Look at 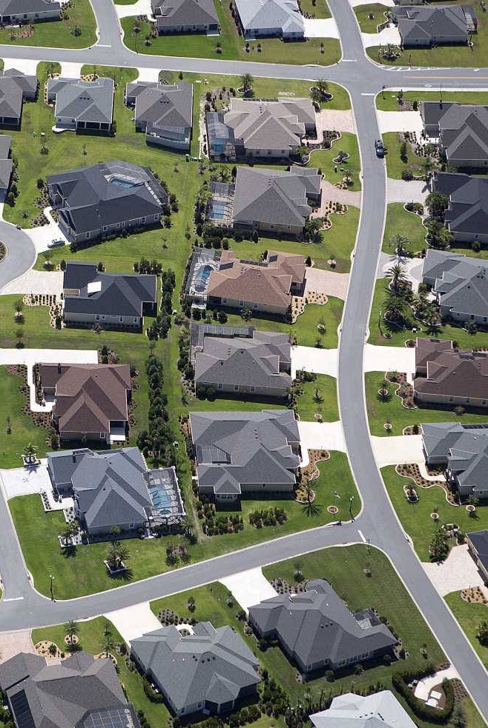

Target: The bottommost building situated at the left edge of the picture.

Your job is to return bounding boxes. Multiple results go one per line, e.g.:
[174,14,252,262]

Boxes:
[0,655,124,728]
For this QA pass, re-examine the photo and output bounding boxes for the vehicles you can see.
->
[376,141,385,152]
[47,238,65,247]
